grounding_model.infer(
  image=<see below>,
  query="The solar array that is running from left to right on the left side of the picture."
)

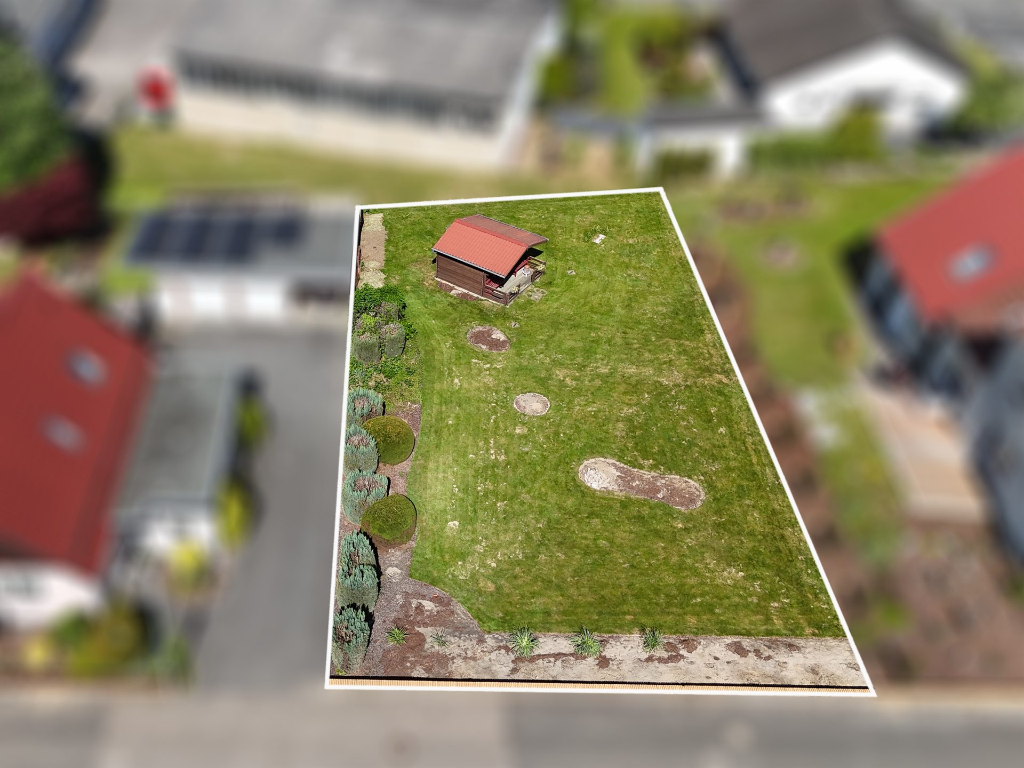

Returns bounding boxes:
[136,213,298,259]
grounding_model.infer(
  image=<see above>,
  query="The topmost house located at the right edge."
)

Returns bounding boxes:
[718,0,987,144]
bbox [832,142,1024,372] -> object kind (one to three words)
house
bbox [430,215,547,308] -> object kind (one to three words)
building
